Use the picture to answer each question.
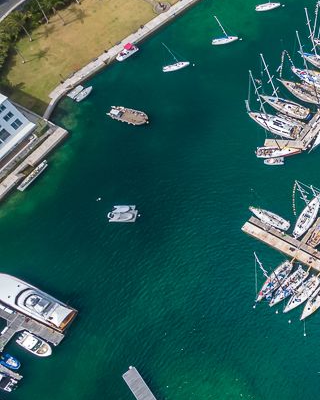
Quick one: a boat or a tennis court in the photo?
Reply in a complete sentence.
Of the two, only a boat appears.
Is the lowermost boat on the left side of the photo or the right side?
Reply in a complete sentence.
You can find the lowermost boat on the left side of the picture.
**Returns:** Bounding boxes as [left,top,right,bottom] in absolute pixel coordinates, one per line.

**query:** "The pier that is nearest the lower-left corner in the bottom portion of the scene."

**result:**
[0,309,65,381]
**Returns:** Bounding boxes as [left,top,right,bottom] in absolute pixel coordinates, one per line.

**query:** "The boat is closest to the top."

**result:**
[257,0,280,13]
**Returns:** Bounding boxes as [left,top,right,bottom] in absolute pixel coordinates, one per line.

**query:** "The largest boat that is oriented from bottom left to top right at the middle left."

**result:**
[18,163,47,193]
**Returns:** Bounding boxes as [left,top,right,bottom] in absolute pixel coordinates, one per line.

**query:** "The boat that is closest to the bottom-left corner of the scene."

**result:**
[0,370,20,395]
